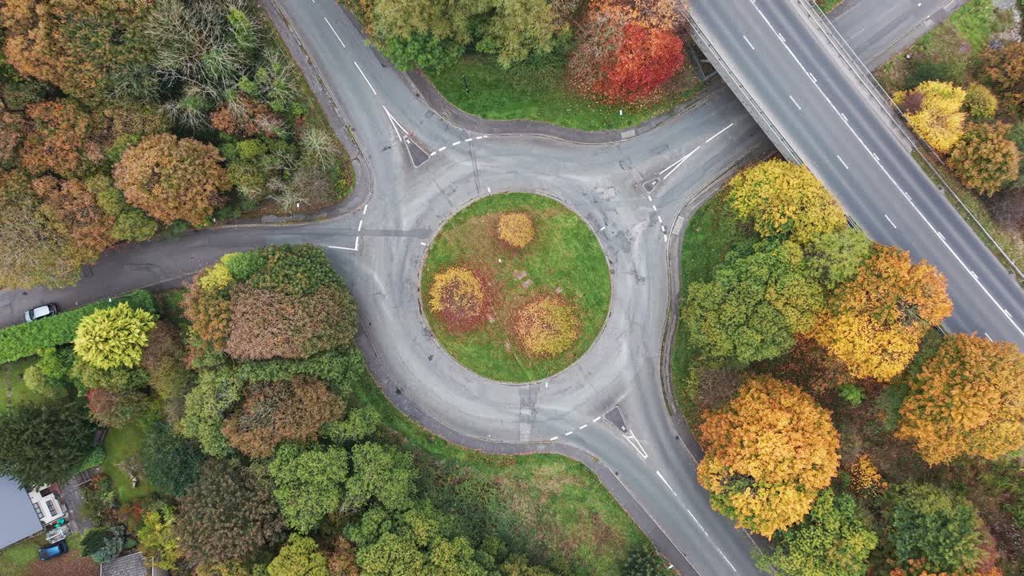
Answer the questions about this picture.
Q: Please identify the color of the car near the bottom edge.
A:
blue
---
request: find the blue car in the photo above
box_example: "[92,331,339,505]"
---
[40,539,72,560]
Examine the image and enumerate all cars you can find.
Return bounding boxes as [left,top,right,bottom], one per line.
[40,539,72,560]
[27,302,61,319]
